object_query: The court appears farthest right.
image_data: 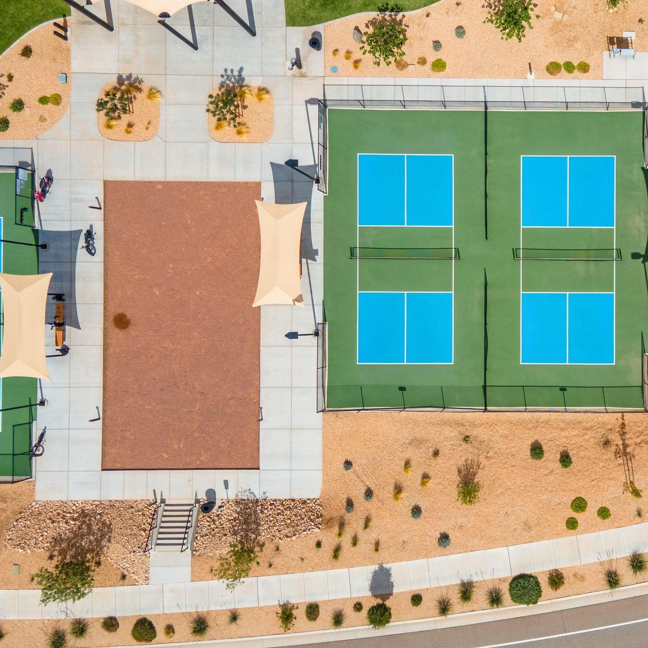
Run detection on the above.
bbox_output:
[485,109,648,410]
